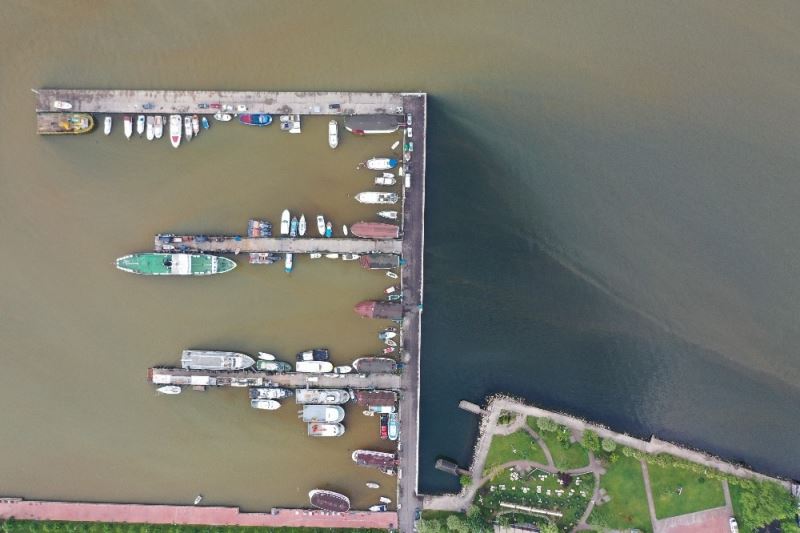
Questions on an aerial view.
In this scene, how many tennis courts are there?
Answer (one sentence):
There are no tennis courts in the image.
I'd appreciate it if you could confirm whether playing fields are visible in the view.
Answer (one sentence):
No, no playing field is visible in the view.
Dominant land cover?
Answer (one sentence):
The largest share of the image is taken up by water.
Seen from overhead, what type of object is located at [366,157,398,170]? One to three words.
boat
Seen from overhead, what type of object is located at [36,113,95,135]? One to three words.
ship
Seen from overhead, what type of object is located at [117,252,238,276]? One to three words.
ship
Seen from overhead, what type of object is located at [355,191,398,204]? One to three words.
boat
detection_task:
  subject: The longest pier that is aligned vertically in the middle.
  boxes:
[398,93,427,497]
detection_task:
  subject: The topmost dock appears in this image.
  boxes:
[36,90,404,116]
